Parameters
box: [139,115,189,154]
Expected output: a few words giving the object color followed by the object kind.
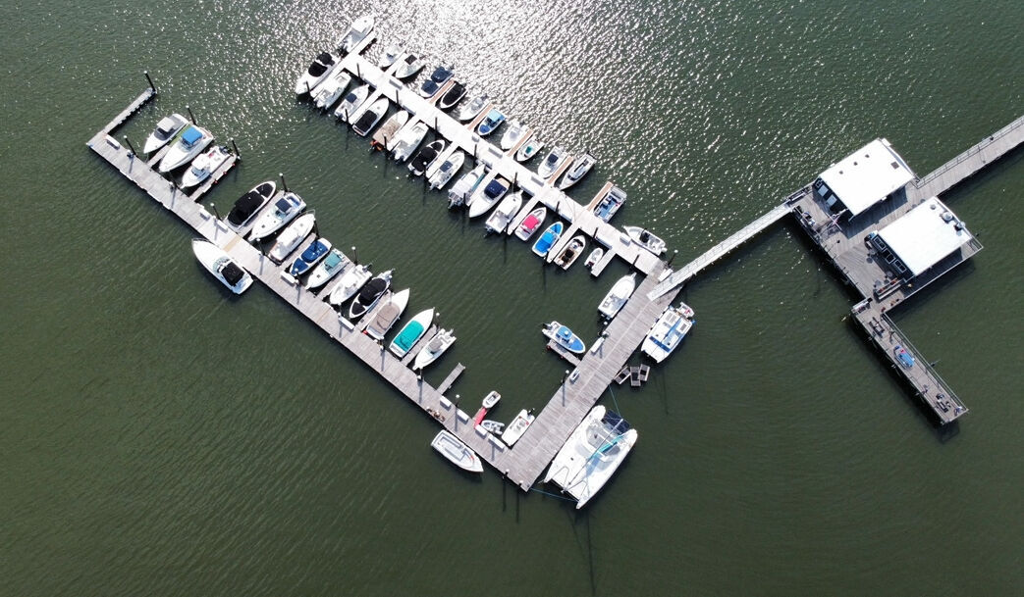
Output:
white boat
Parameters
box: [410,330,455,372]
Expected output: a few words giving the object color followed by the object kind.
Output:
white boat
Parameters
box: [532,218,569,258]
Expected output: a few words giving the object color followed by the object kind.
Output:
blue boat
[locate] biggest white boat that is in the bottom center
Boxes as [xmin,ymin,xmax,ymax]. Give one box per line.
[542,406,636,512]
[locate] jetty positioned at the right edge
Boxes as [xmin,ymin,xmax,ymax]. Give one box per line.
[787,119,1024,431]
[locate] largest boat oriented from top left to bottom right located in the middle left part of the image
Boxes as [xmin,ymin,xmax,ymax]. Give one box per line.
[191,238,259,299]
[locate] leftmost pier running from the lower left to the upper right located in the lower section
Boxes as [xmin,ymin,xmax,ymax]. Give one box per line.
[497,258,684,493]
